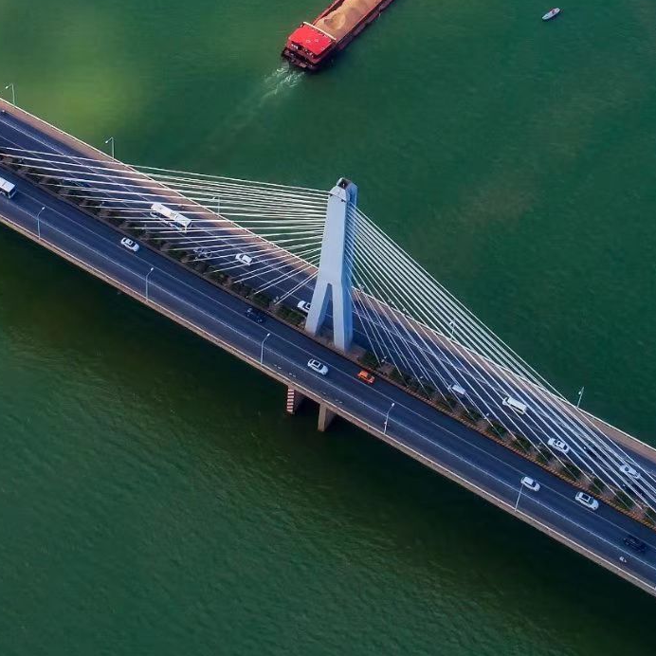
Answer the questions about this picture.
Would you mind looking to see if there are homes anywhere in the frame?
No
